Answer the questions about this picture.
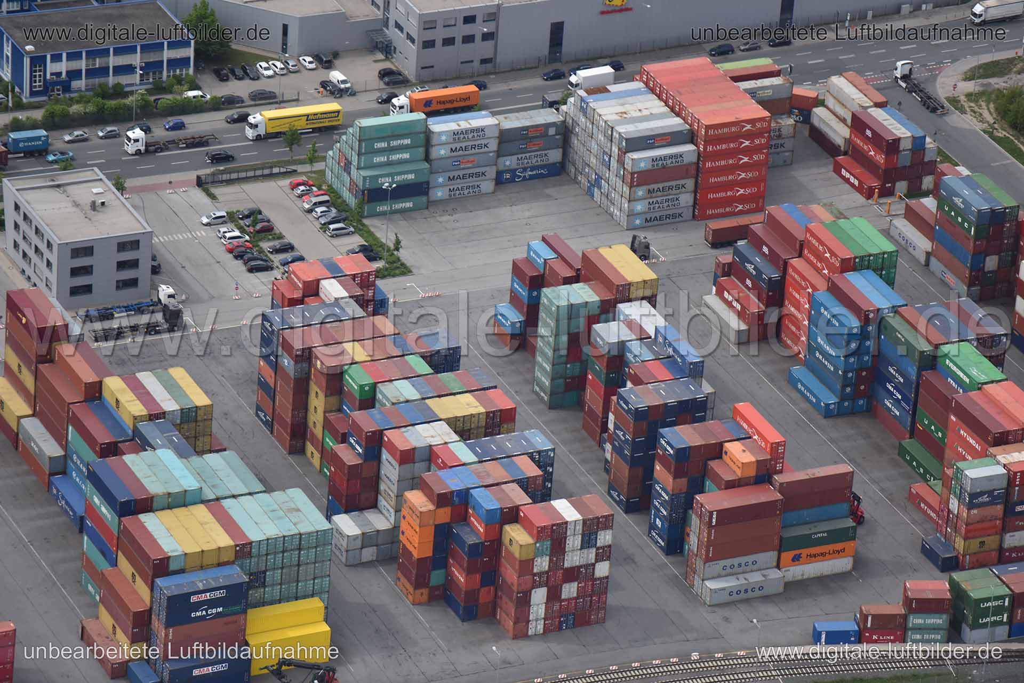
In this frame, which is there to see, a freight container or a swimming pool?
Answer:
freight container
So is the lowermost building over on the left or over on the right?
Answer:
left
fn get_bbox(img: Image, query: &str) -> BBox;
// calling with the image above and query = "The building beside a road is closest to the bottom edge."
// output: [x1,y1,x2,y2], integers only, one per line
[4,167,153,312]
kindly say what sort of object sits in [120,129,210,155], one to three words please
truck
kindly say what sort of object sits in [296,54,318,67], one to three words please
vehicle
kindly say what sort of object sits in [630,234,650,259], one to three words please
vehicle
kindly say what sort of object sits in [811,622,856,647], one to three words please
shipping container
